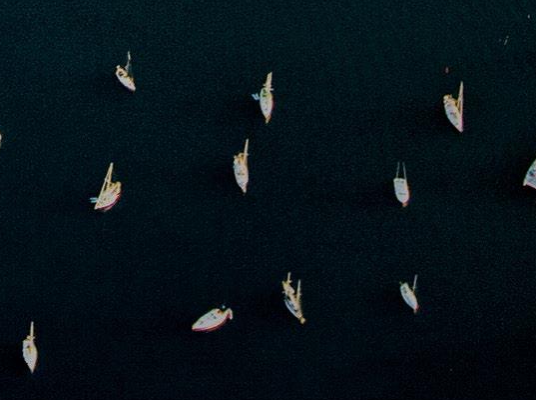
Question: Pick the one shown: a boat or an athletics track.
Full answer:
Visible in the photo is a boat.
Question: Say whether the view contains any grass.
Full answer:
No, there is no grass in the image.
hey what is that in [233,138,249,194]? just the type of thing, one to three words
boat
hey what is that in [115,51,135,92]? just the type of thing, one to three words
boat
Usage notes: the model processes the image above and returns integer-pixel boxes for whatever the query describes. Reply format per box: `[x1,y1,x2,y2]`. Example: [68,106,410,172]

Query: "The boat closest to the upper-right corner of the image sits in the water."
[443,79,463,133]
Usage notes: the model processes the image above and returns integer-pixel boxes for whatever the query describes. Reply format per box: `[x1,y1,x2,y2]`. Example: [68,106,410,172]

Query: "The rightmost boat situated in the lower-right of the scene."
[400,274,417,312]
